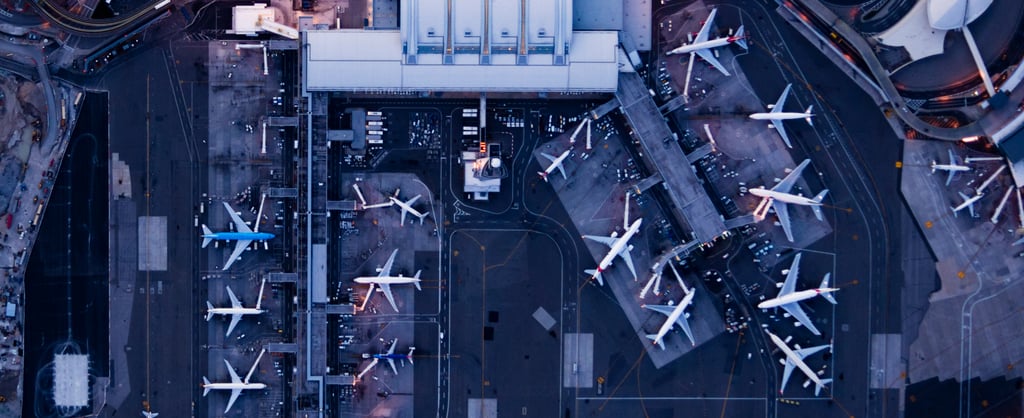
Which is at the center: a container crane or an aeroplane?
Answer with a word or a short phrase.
aeroplane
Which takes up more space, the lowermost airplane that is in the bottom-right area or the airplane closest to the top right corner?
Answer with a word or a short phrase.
the lowermost airplane that is in the bottom-right area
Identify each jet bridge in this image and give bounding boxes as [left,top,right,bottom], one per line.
[669,259,689,294]
[964,156,1005,162]
[261,120,268,154]
[758,199,776,221]
[653,272,662,295]
[686,53,695,98]
[234,43,268,50]
[991,187,1014,221]
[356,356,380,378]
[256,276,267,311]
[362,201,395,210]
[352,182,367,206]
[640,271,658,299]
[975,164,1007,195]
[586,118,591,150]
[703,123,715,149]
[570,116,590,143]
[245,346,268,384]
[263,46,270,77]
[359,284,375,310]
[757,198,770,219]
[624,191,630,228]
[254,191,268,233]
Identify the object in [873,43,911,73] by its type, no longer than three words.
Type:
building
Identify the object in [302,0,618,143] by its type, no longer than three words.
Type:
building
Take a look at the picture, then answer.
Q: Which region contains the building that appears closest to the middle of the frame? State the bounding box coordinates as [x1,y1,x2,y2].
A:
[462,142,509,199]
